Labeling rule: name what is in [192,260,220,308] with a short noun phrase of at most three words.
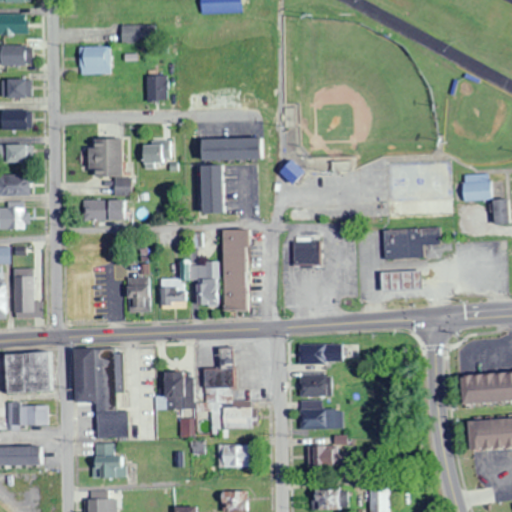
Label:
house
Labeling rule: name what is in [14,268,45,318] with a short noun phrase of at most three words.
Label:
building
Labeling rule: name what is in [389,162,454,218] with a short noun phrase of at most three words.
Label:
basketball court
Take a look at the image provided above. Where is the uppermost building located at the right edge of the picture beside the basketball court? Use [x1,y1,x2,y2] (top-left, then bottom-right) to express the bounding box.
[462,174,494,202]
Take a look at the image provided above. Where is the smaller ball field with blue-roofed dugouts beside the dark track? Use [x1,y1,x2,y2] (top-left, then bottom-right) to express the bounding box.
[444,75,512,168]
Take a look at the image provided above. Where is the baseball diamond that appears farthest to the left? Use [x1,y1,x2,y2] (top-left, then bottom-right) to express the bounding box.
[284,16,438,162]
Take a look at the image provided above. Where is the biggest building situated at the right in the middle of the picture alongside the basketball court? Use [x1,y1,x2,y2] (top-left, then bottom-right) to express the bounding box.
[384,228,441,260]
